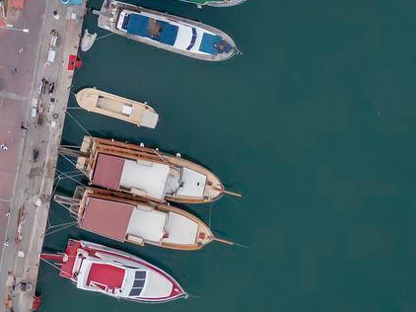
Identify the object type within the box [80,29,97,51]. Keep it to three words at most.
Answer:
boat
